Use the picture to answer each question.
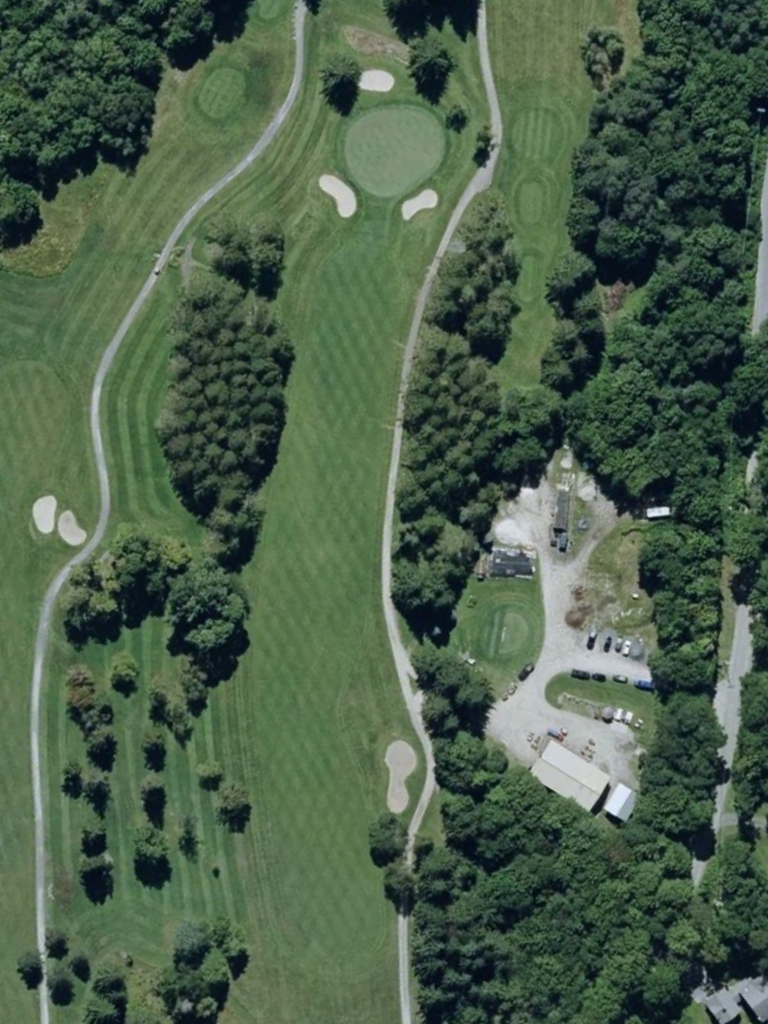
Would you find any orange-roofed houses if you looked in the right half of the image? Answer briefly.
No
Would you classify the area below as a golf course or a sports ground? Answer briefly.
golf course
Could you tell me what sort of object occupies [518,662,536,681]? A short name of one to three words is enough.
vehicle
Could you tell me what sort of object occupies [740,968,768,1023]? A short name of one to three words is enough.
house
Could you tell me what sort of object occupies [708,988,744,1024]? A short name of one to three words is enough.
house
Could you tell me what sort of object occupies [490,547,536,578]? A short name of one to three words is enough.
building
